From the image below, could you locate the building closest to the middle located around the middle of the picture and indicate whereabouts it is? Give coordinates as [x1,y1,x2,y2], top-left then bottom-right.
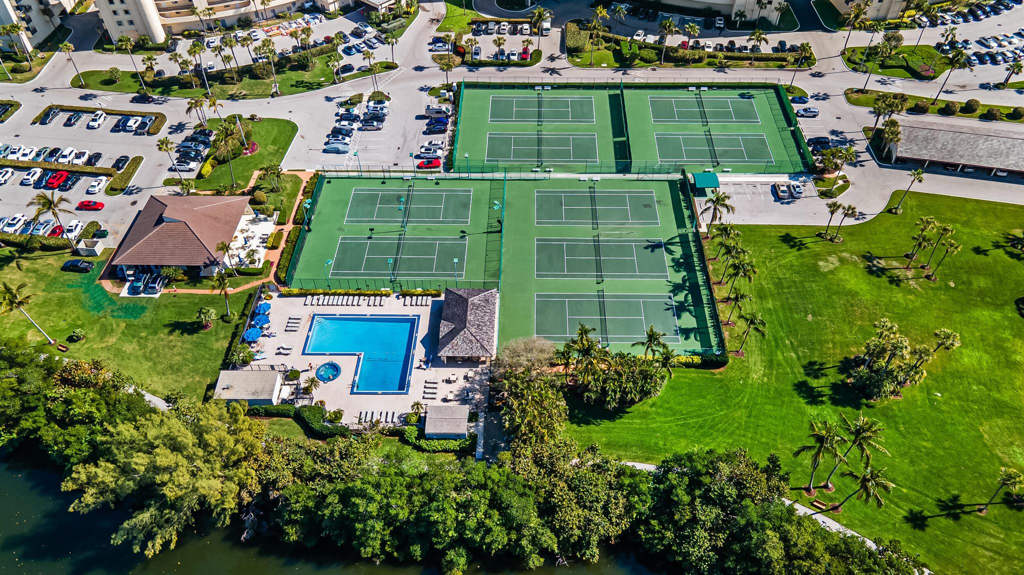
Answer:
[438,288,496,366]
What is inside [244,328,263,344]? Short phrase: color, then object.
blue umbrella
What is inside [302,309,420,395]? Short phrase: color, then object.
blue swimming pool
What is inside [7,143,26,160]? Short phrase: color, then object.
white car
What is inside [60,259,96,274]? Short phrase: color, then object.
black vehicle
